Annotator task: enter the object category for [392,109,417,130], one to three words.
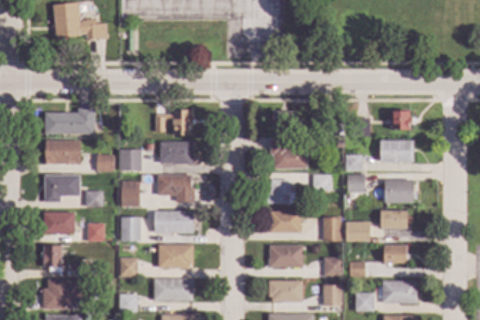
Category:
house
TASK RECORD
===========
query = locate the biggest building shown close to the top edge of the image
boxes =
[50,2,108,40]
